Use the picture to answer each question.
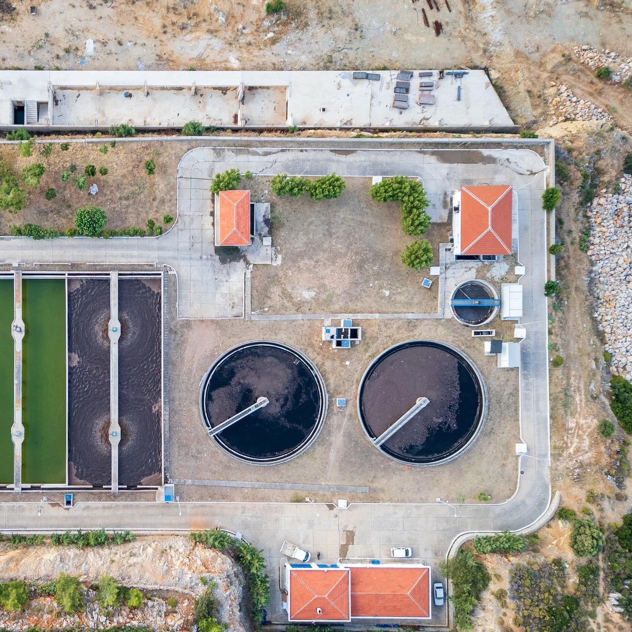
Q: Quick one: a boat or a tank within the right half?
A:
tank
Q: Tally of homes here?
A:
3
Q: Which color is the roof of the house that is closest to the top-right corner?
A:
red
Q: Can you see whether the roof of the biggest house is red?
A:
Yes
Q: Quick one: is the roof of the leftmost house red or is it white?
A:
red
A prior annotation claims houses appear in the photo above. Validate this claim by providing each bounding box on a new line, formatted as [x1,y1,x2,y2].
[214,190,259,249]
[286,564,432,624]
[449,185,513,262]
